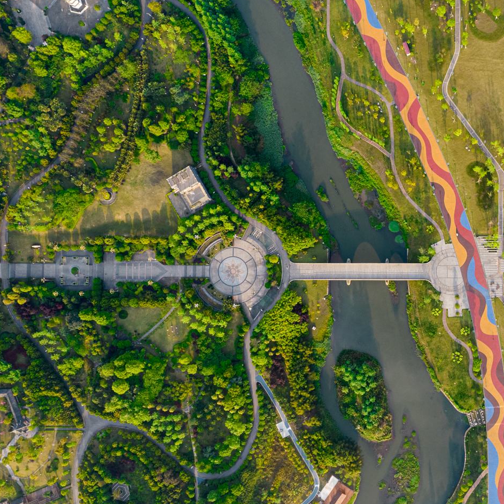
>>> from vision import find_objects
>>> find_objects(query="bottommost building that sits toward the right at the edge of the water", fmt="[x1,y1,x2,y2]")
[319,474,356,504]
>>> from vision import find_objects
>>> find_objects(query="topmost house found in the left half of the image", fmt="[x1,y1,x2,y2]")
[166,166,214,209]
